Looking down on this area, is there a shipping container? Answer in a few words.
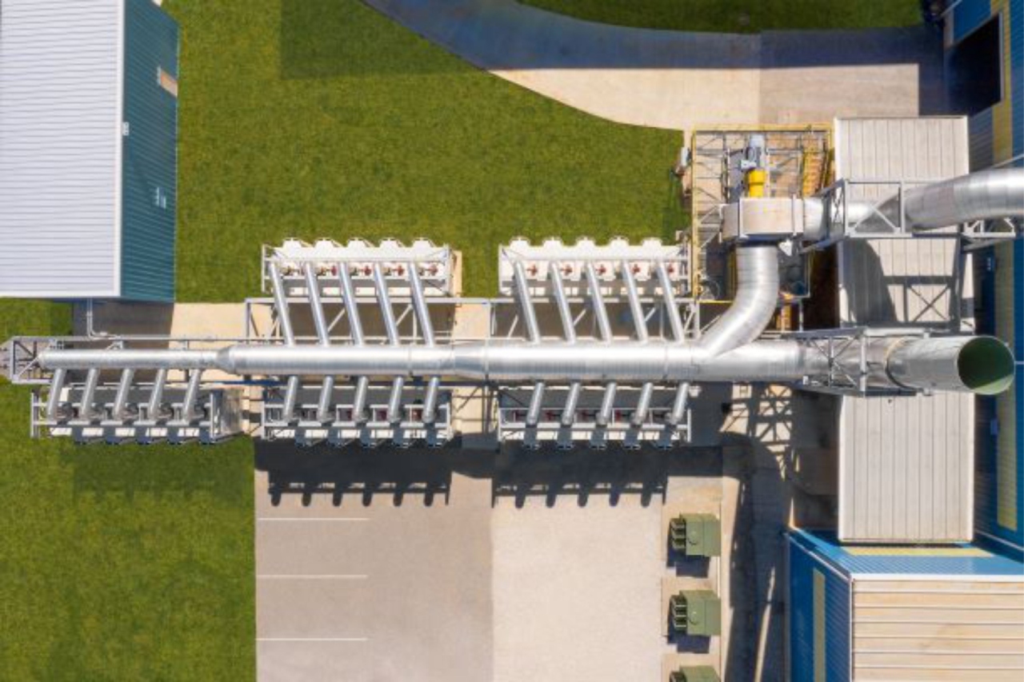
No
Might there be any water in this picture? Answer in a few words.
No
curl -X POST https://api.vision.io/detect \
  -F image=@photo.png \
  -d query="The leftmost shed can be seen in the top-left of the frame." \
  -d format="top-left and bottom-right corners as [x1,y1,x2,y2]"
[0,0,177,303]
